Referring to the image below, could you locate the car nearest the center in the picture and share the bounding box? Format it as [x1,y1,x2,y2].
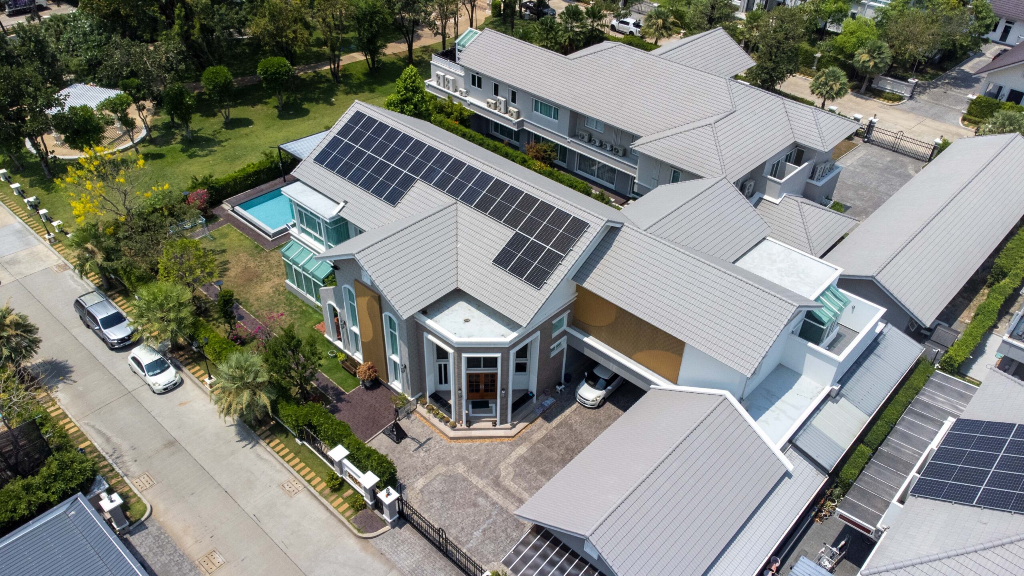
[578,364,631,408]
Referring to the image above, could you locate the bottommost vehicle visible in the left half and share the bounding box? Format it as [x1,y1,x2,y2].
[127,341,184,395]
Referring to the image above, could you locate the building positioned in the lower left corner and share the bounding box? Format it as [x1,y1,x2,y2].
[0,492,149,576]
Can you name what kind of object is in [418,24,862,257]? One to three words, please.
house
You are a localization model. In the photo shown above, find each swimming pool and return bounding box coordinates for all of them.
[223,179,300,245]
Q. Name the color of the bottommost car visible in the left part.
white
